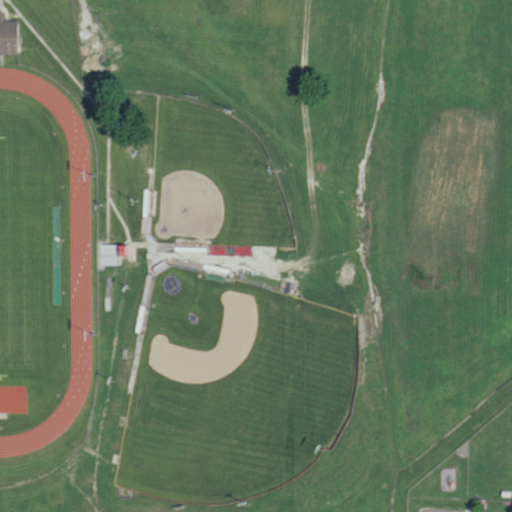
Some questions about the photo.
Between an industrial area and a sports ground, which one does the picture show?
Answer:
sports ground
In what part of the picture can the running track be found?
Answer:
left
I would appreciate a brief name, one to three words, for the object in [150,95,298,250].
baseball field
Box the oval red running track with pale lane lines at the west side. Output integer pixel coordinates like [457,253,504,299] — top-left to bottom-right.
[0,70,91,458]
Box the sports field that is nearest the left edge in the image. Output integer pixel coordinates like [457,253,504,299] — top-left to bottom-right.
[0,90,70,436]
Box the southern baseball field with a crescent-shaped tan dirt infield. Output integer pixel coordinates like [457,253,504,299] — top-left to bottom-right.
[115,266,359,506]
